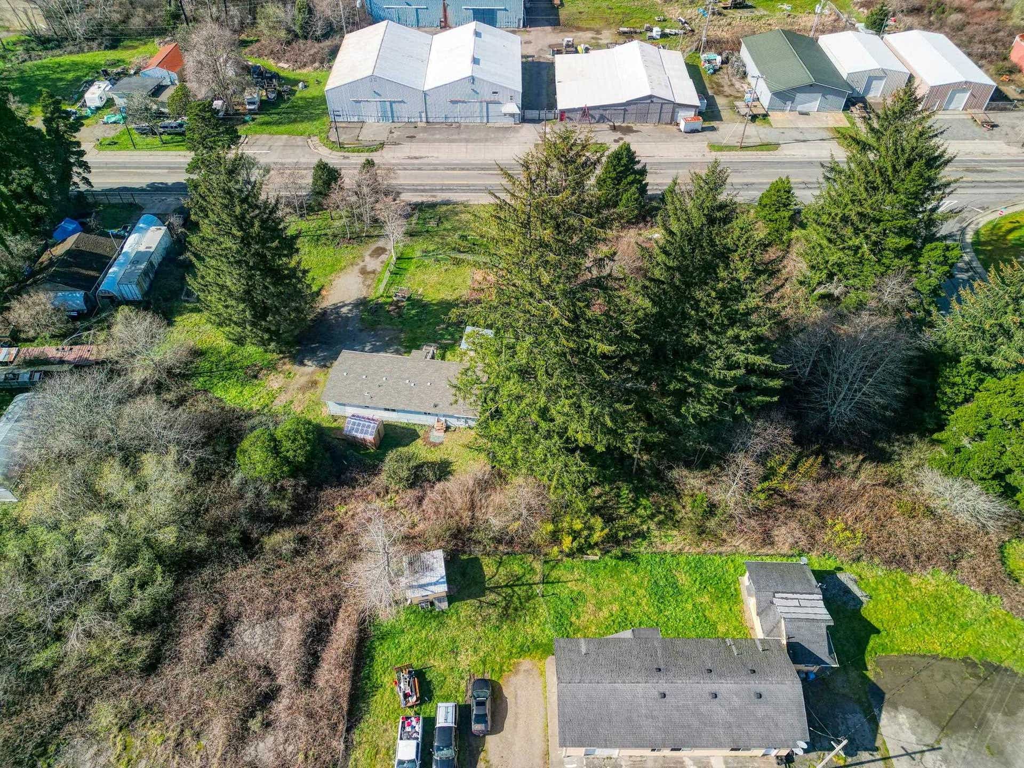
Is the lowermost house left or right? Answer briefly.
right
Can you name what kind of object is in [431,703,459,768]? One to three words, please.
truck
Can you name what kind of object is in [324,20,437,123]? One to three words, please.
building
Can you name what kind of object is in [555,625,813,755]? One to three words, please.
house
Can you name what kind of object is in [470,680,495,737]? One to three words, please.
car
